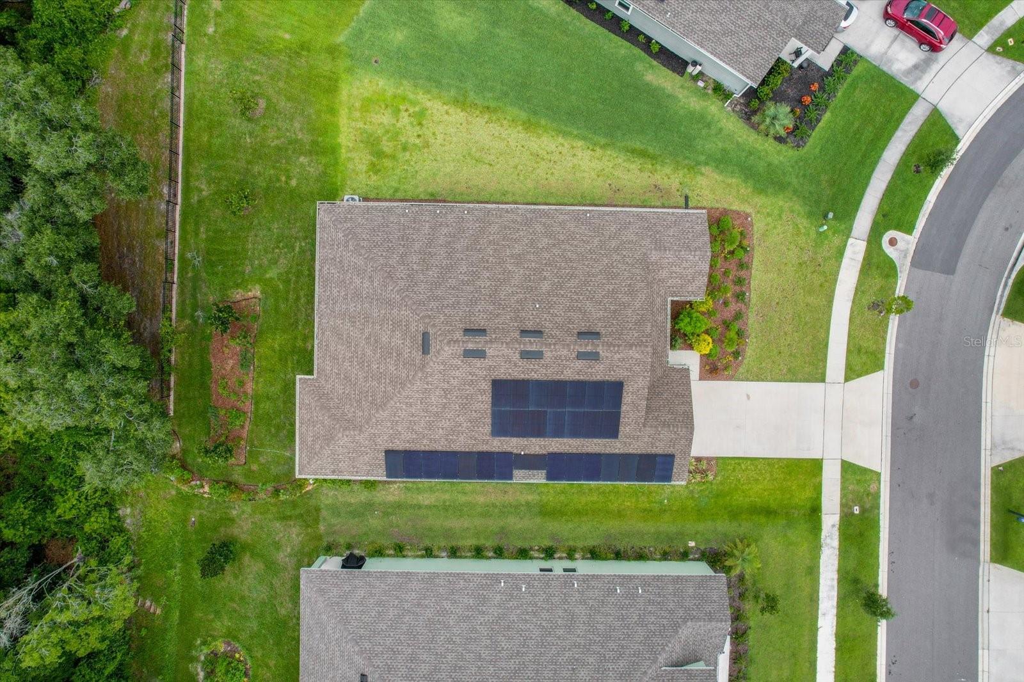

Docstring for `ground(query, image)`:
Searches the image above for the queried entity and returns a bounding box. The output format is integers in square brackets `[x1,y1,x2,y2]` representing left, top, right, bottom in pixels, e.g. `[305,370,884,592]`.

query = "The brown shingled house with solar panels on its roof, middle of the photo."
[294,202,712,485]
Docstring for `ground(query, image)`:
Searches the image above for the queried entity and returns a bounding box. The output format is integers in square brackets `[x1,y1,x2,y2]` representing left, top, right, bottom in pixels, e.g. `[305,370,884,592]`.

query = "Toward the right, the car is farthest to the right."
[878,0,961,54]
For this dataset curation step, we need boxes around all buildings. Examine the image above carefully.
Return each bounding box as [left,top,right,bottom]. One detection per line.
[595,0,847,98]
[299,557,731,682]
[294,202,712,485]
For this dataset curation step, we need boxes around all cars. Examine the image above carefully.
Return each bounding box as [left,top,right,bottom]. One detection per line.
[878,0,961,54]
[835,0,863,31]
